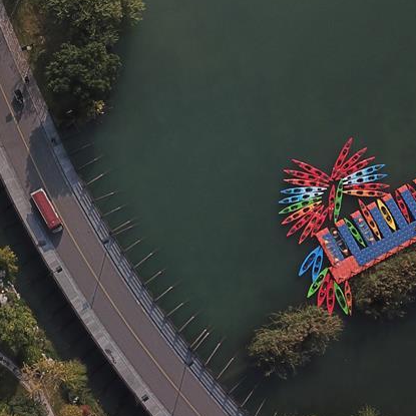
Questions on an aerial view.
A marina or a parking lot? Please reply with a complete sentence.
This image shows a marina.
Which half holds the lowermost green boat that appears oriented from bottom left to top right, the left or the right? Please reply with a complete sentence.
The lowermost green boat that appears oriented from bottom left to top right appears in the right half of the scene.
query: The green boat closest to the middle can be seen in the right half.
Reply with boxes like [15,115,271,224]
[280,198,321,213]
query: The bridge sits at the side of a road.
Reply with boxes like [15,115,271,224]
[0,128,255,416]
